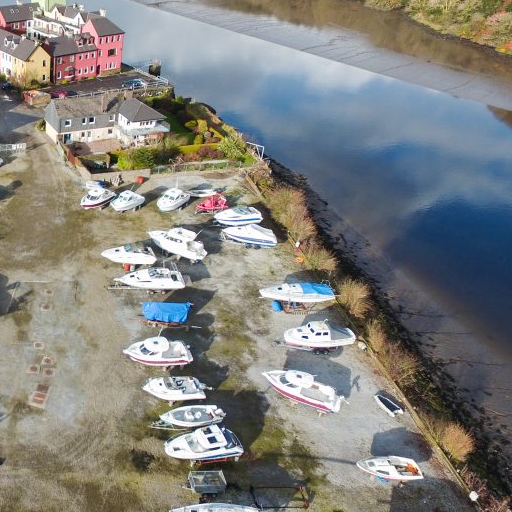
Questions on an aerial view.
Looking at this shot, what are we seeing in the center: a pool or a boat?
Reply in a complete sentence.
There is a boat in the center.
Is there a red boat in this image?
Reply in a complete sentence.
Yes, a red boat can be made out from above.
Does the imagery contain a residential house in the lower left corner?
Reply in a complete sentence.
No, looking in the lower left corner, there is no residential house.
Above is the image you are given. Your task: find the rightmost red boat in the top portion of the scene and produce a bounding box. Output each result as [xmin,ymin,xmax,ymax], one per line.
[194,194,233,214]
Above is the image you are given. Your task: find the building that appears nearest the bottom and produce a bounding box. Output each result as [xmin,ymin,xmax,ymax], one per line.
[54,86,170,152]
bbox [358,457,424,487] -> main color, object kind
white boat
